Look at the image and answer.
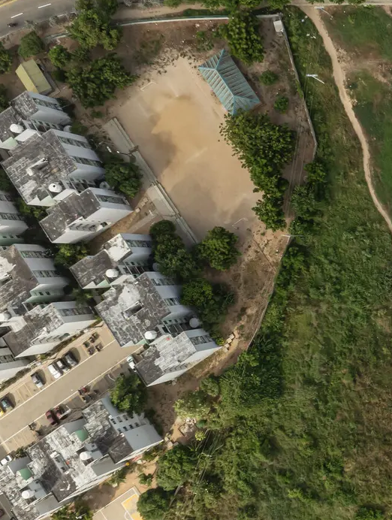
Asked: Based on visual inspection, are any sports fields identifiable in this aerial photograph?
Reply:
Yes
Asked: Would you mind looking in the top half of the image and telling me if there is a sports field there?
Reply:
Yes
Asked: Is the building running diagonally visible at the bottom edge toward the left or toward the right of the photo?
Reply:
left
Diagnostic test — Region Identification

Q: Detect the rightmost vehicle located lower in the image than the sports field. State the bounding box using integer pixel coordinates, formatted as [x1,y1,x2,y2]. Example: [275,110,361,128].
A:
[122,352,137,371]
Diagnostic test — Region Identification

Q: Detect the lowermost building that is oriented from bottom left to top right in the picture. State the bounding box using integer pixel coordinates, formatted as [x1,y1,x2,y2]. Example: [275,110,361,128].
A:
[0,392,162,520]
